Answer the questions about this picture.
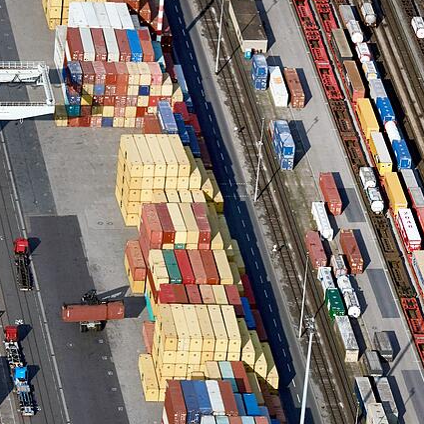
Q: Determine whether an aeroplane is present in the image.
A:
No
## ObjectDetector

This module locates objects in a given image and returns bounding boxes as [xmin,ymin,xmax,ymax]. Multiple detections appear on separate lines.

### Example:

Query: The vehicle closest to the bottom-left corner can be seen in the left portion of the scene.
[13,369,34,414]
